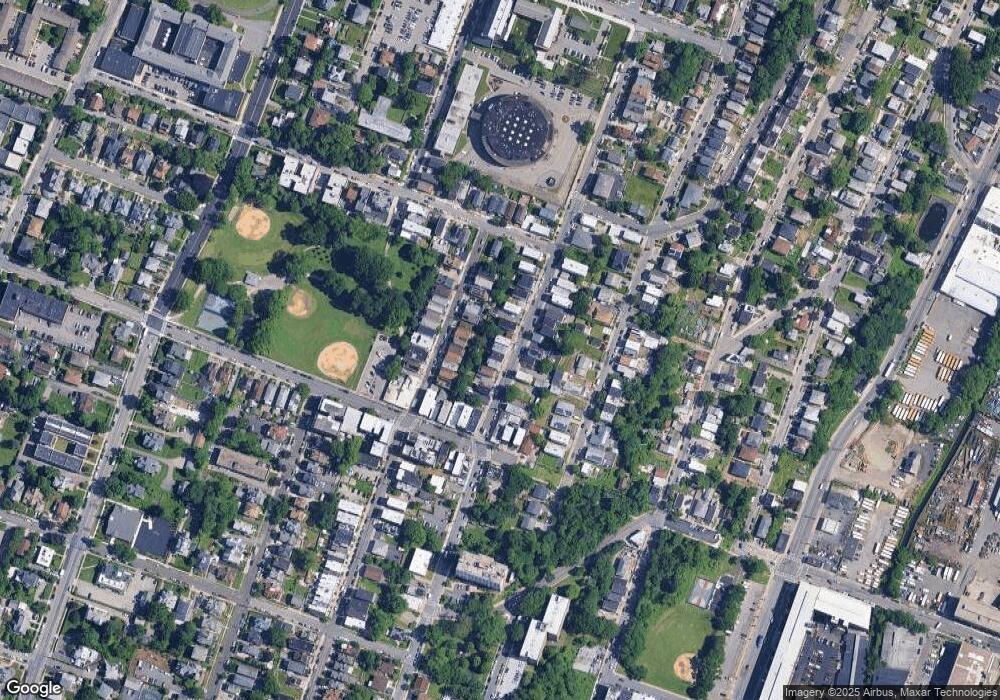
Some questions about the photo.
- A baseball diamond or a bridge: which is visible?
baseball diamond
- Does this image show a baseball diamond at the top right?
No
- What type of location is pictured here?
residential area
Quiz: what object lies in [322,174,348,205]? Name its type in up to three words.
building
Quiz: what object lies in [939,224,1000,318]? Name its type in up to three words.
building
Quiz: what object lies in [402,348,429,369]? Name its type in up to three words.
house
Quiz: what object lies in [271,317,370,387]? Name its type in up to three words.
baseball field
